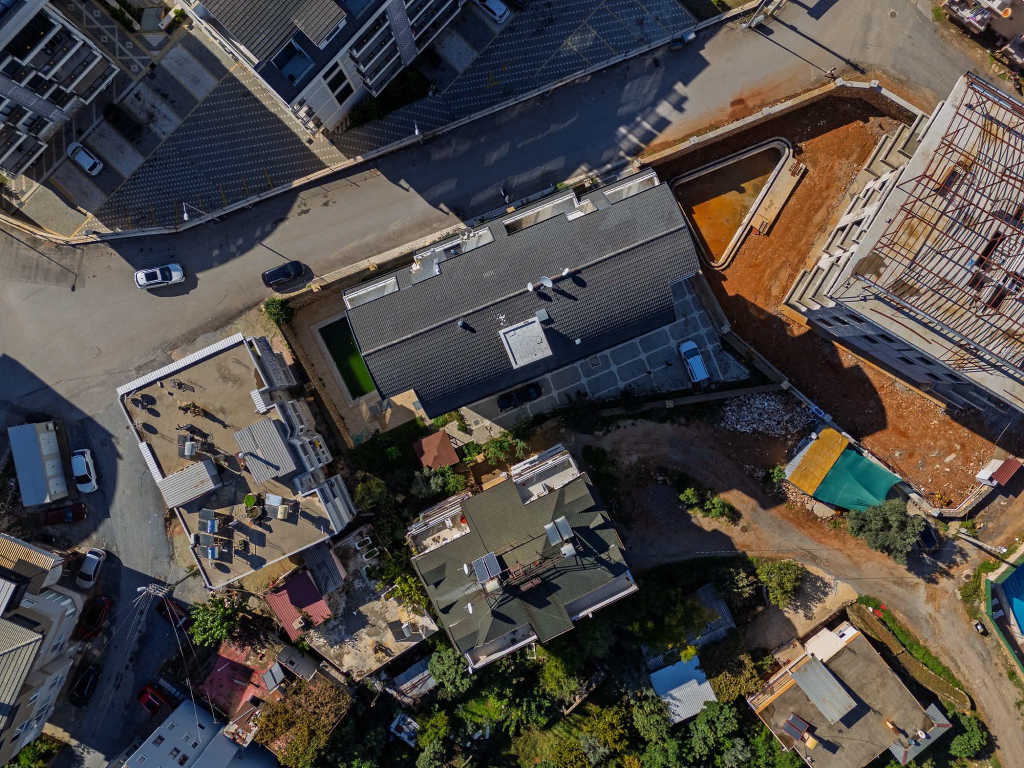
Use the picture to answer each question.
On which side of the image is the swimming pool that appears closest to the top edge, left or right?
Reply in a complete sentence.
It is on the left.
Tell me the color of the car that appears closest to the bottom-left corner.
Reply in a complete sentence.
The color of the car that appears closest to the bottom-left corner is black.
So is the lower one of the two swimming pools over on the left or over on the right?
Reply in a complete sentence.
The lower one of the two swimming pools appears in the right half of the scene.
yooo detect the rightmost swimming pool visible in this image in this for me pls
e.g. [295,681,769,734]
[978,537,1024,687]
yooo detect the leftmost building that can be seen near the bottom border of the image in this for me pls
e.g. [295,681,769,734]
[0,534,95,768]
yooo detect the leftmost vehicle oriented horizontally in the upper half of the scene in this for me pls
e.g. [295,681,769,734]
[134,262,185,289]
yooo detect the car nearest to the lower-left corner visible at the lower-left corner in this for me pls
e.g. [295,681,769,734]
[67,661,107,710]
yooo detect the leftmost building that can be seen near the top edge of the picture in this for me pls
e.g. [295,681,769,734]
[0,0,121,179]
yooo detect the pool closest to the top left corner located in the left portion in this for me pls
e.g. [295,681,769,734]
[314,312,379,404]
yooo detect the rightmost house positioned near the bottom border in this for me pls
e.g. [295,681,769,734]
[746,607,952,768]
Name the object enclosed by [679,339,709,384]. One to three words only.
vehicle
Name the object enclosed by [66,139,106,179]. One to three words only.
car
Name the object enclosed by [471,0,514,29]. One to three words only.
car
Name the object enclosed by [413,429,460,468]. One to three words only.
gazebo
